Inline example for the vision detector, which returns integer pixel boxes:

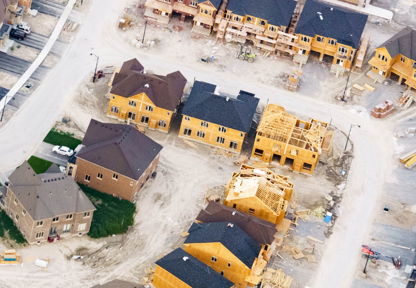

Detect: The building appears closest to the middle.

[180,77,260,153]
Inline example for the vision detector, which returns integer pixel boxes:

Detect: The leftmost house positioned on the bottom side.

[4,160,95,242]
